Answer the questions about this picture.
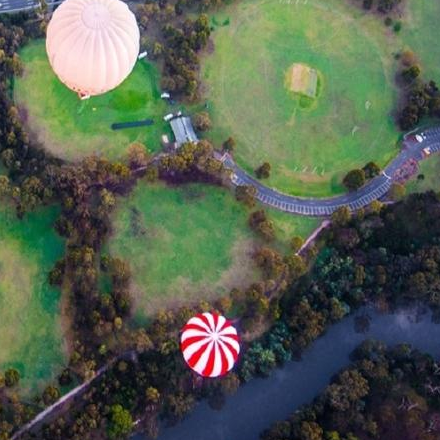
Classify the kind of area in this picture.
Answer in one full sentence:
The picture captures a sports ground.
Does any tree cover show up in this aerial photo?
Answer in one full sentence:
Yes, tree cover shows up in the scene.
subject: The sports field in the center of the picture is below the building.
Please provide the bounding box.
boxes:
[110,181,264,320]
